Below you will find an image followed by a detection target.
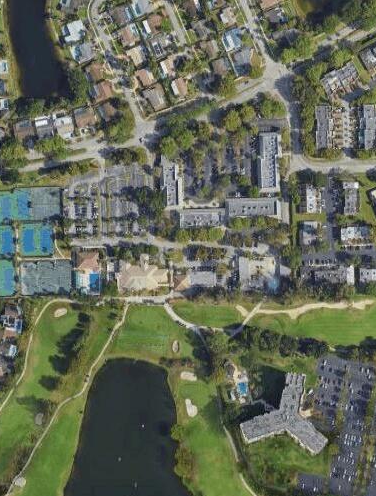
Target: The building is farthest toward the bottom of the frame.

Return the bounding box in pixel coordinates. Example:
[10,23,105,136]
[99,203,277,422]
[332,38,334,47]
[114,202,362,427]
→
[239,372,331,457]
